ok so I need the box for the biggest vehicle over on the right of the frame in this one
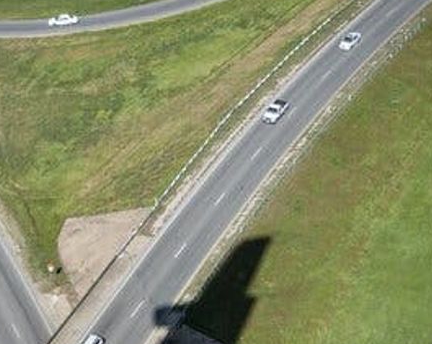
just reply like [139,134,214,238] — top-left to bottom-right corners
[260,97,291,127]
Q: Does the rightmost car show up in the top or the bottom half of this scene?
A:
top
